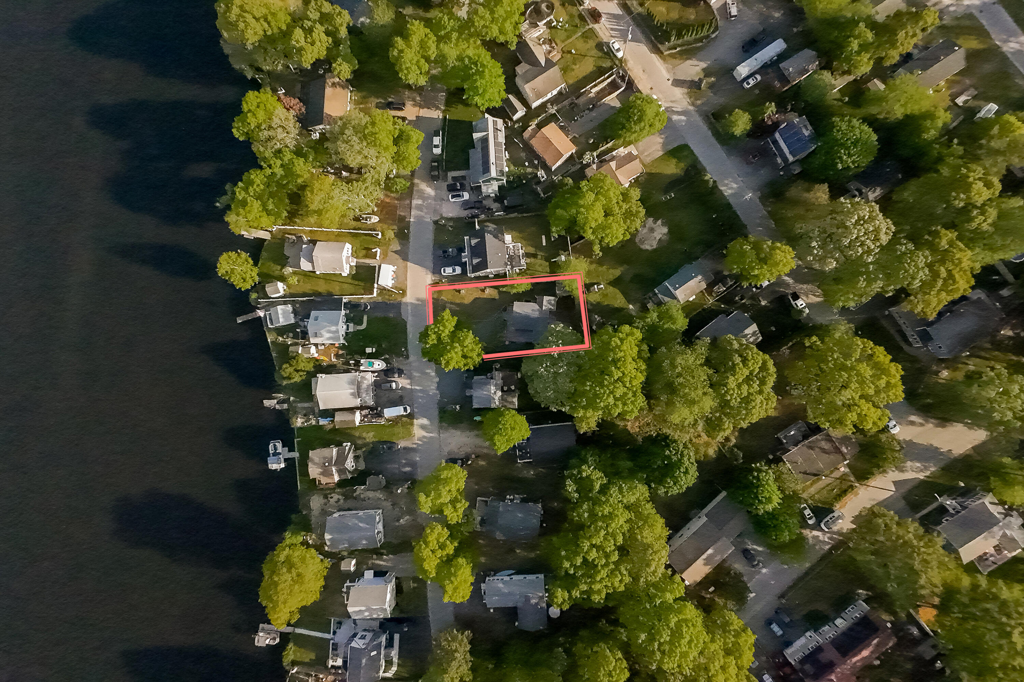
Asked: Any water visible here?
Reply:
Yes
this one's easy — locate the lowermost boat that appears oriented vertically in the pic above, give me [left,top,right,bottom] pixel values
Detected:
[269,440,283,472]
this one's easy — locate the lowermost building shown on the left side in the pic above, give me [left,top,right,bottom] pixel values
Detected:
[327,618,400,682]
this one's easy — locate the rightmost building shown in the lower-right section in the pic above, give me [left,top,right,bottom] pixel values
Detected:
[924,492,1024,573]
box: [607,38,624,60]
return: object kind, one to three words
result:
car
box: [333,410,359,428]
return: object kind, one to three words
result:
shed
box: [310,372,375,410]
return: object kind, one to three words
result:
house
